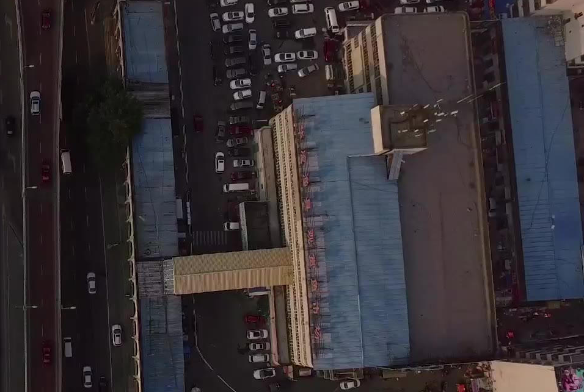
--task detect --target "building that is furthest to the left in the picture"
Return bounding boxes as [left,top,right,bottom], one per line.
[115,0,186,392]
